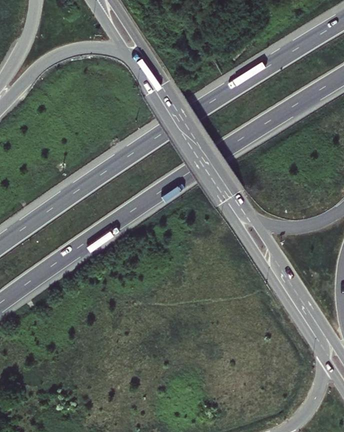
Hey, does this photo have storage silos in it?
No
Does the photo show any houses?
No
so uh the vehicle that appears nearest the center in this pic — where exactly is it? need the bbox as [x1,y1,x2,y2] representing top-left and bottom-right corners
[160,183,186,202]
